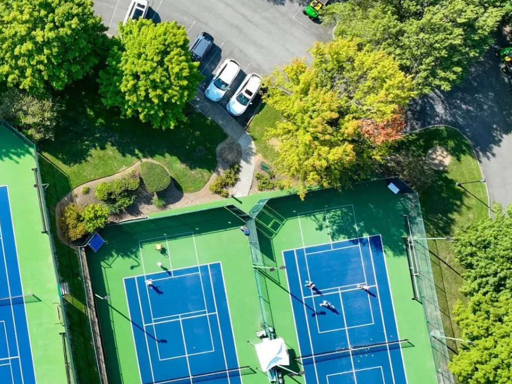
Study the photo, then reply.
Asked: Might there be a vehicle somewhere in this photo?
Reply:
Yes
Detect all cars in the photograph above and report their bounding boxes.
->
[227,73,263,116]
[115,0,148,39]
[204,59,241,102]
[189,28,220,74]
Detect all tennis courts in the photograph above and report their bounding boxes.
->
[88,194,276,384]
[249,177,439,384]
[0,127,75,384]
